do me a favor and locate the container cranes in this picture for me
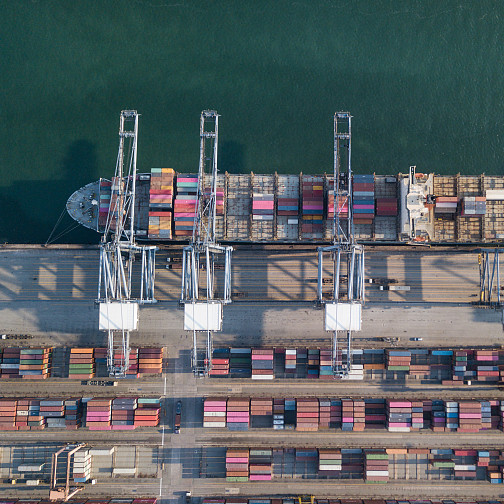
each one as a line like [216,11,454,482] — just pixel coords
[313,110,369,376]
[96,109,178,375]
[470,237,504,334]
[49,444,88,502]
[179,110,250,376]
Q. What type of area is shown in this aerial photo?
port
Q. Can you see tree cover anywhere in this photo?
No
